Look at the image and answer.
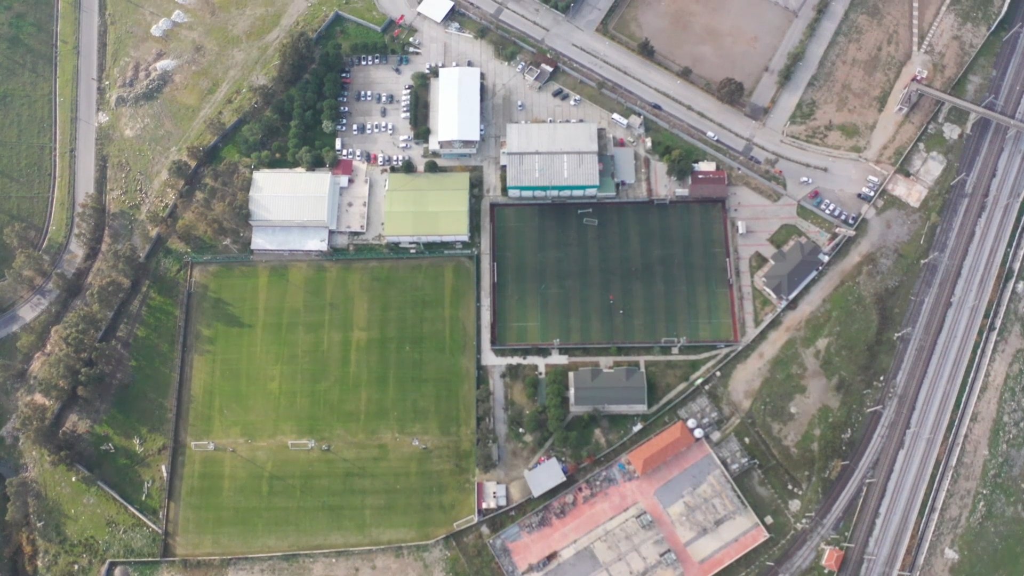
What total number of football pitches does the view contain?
2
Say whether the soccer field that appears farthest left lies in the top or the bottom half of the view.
bottom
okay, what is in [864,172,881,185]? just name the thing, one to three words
vehicle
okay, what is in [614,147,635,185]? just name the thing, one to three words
shed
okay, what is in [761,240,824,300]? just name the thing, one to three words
house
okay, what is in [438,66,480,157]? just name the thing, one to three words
building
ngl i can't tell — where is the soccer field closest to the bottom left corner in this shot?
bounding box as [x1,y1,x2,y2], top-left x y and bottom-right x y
[164,256,475,557]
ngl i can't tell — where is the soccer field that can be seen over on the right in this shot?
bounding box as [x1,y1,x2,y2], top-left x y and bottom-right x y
[491,200,739,348]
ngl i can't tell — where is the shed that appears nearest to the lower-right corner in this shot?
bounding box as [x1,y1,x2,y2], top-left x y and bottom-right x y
[820,547,845,573]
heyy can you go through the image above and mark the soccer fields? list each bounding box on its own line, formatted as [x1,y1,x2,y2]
[164,256,475,557]
[491,200,739,348]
